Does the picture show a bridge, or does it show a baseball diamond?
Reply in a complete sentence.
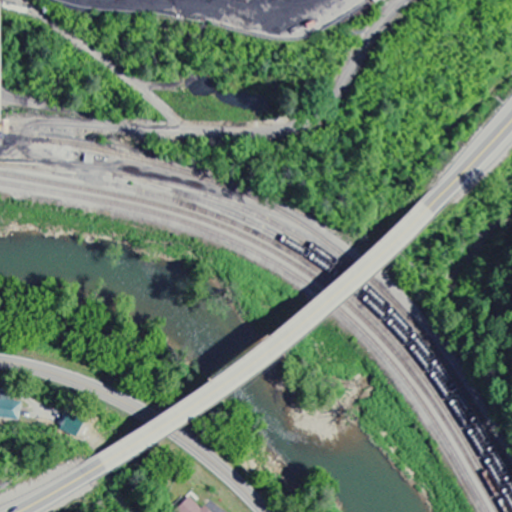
There is a bridge in the scene.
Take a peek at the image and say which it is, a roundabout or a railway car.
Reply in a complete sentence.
Looking from above, you can make out a railway car.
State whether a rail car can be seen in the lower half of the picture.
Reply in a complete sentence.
Yes, a rail car appears in the lower half of the picture.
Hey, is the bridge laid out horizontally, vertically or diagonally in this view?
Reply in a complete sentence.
In this picture, the bridge lies diagonally.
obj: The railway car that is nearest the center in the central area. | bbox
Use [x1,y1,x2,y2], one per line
[278,234,308,254]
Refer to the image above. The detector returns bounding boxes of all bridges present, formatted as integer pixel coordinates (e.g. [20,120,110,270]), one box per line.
[88,189,448,480]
